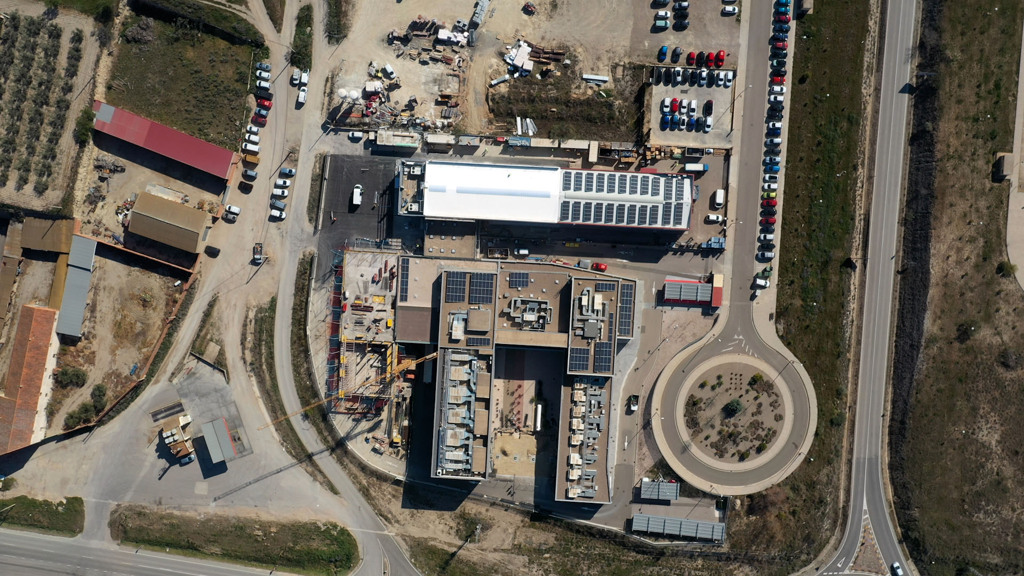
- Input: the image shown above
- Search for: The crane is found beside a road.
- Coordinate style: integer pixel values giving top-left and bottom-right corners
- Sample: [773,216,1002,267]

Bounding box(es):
[259,350,440,429]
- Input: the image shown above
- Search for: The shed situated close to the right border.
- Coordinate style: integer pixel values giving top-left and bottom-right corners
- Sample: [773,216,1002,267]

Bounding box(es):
[995,154,1012,178]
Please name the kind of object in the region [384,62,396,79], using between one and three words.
vehicle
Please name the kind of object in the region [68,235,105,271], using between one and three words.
shed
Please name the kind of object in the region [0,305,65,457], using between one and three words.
building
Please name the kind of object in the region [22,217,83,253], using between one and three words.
shed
